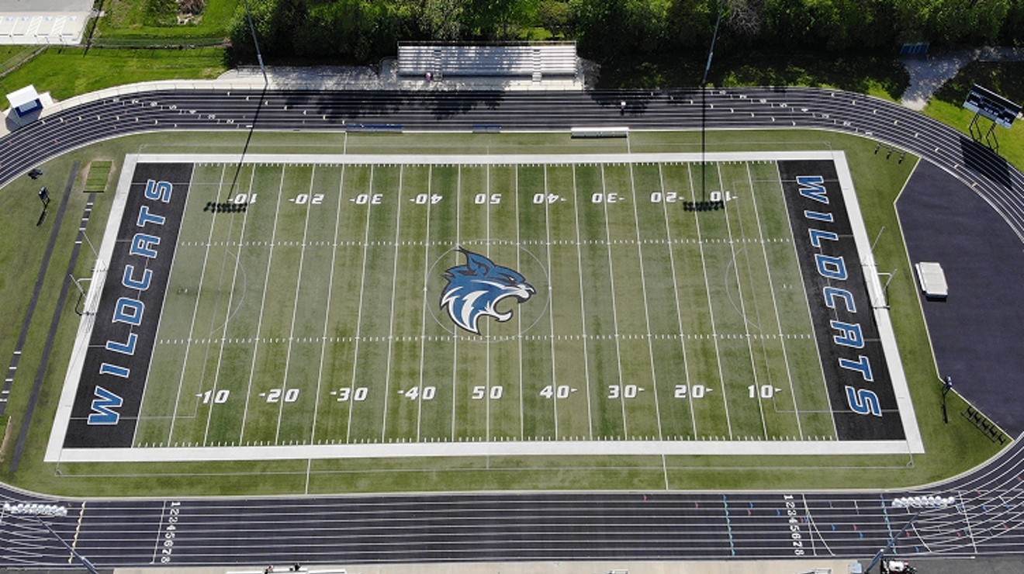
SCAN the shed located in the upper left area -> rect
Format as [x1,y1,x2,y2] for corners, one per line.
[9,82,49,117]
